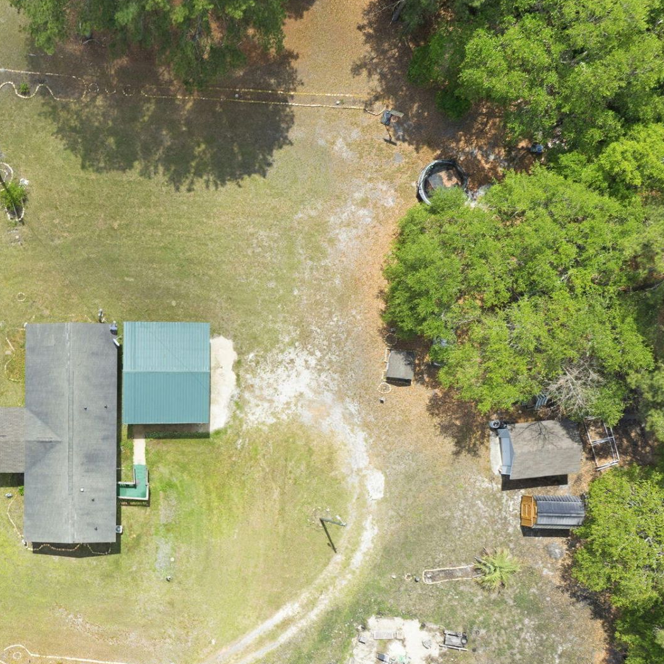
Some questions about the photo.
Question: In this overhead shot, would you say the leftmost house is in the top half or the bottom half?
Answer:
bottom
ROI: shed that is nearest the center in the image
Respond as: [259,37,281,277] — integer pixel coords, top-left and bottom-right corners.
[382,350,415,379]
